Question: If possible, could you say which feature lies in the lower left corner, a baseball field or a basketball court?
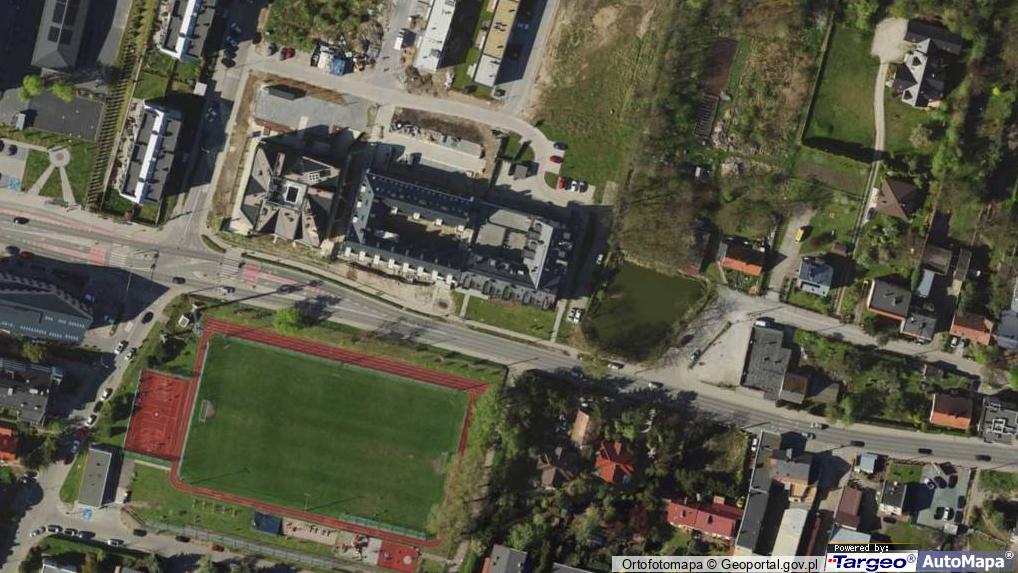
basketball court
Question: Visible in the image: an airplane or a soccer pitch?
soccer pitch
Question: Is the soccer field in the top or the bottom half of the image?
bottom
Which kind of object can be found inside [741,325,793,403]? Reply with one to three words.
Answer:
building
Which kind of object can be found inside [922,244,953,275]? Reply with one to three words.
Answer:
barn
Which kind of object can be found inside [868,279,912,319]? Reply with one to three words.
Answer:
house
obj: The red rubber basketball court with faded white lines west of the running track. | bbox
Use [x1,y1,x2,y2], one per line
[122,370,193,466]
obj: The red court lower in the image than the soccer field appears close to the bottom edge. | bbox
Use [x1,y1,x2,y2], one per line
[378,541,420,573]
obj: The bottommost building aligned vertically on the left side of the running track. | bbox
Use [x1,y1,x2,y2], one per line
[79,448,112,509]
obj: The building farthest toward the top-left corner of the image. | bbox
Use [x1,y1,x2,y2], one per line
[31,0,90,73]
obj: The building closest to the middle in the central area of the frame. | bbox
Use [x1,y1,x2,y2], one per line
[461,201,572,311]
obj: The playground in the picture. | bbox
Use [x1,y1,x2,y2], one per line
[332,532,382,567]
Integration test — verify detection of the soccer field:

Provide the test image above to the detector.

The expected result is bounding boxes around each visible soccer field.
[181,332,466,533]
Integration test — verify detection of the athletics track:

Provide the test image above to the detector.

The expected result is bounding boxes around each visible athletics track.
[171,319,485,547]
